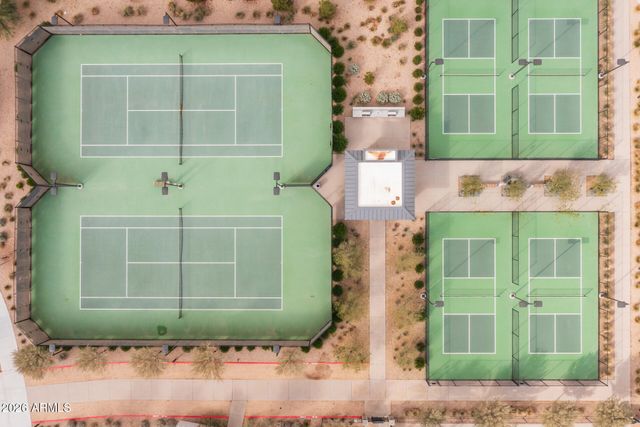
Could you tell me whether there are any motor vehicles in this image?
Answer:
No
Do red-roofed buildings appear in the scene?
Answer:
No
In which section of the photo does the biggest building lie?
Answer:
center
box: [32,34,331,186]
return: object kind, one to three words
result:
tennis court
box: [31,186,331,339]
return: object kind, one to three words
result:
tennis court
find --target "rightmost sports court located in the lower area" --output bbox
[513,212,599,380]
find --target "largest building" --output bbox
[344,150,416,221]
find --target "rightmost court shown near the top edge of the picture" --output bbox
[513,0,599,159]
